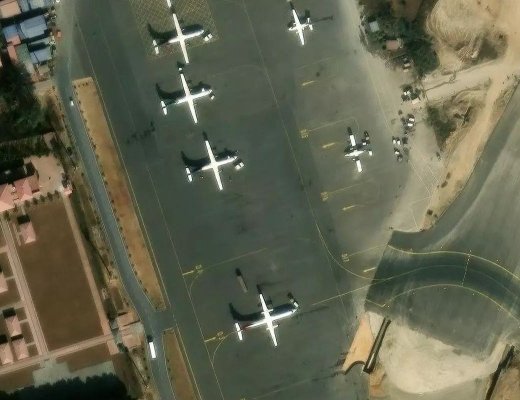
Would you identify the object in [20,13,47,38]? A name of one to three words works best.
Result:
house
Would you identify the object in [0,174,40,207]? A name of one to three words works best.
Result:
house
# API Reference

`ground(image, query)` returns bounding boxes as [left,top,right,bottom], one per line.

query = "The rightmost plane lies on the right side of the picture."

[344,134,372,172]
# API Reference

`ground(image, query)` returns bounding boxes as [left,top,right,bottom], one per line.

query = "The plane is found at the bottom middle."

[236,295,296,345]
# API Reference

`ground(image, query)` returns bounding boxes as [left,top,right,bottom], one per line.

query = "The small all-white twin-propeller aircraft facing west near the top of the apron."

[288,9,314,46]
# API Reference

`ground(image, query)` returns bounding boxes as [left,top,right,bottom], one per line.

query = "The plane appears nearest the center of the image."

[186,141,236,190]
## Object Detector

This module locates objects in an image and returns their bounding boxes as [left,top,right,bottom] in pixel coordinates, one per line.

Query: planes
[153,14,204,64]
[344,134,372,172]
[236,295,296,345]
[186,141,236,190]
[161,74,211,123]
[288,9,314,46]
